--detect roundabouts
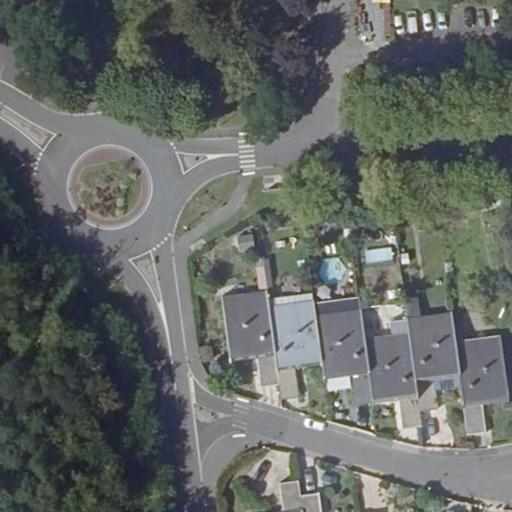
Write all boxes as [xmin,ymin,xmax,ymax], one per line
[34,112,186,262]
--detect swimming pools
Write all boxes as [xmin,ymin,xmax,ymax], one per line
[321,258,346,284]
[366,248,392,264]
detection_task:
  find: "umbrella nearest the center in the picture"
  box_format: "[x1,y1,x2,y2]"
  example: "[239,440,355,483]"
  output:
[317,285,331,299]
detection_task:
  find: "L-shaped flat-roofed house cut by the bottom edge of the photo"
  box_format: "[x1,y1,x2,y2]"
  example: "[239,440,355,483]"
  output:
[280,482,321,512]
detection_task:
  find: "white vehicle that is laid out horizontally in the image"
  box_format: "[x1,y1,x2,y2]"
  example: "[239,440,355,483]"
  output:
[303,418,325,431]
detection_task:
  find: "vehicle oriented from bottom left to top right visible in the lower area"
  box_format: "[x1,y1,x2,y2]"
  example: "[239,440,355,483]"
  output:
[256,458,273,479]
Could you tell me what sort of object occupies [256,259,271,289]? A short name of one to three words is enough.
shed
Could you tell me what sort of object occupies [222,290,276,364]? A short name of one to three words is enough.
house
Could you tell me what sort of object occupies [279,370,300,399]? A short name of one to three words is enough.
building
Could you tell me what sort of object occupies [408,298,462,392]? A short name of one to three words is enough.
house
